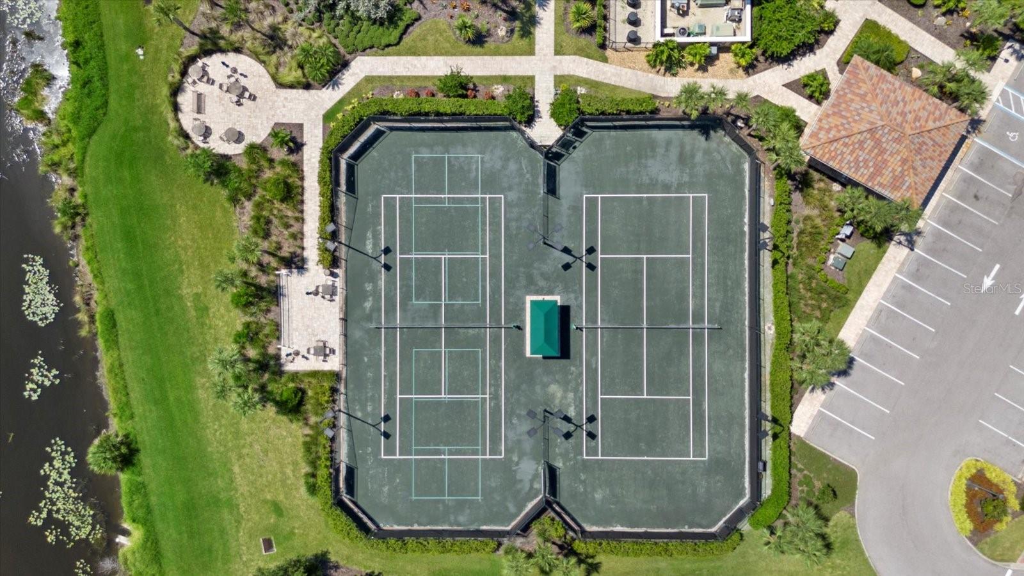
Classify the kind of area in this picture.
sports ground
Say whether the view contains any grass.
Yes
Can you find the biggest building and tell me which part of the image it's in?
top right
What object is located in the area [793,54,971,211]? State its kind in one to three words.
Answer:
building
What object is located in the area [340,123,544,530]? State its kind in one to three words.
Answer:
tennis court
